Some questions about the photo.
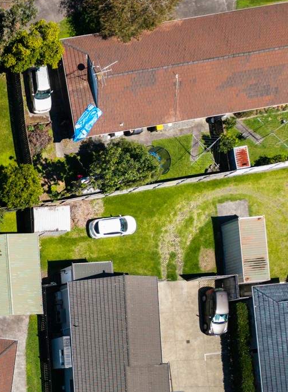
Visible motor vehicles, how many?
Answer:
three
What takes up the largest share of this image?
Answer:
buildings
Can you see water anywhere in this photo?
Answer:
No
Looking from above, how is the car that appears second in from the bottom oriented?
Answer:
from left to right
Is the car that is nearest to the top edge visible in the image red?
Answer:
No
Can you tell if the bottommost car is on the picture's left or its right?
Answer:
right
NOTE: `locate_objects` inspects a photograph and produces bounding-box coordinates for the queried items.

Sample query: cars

[201,288,230,336]
[85,213,135,240]
[27,65,56,116]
